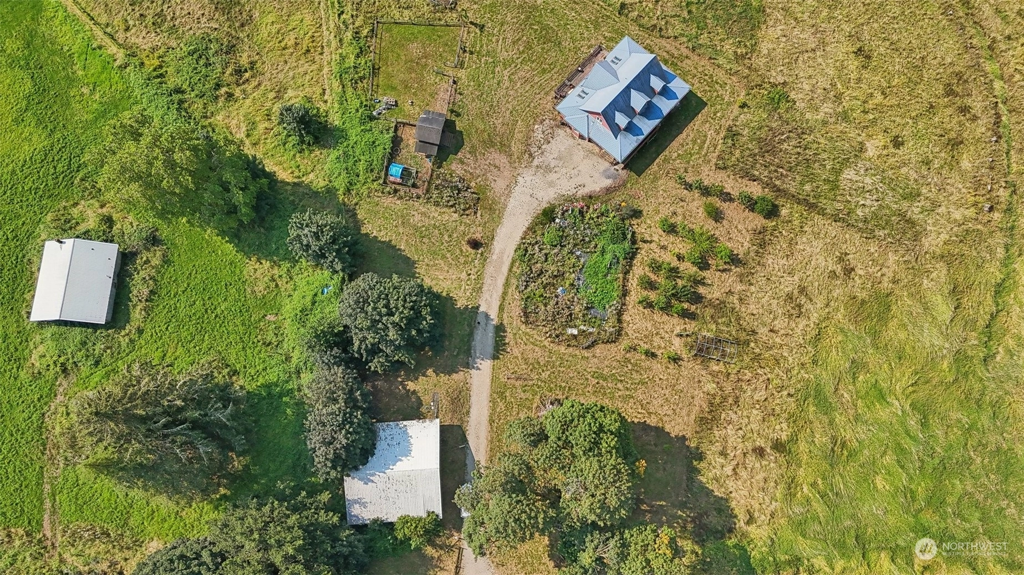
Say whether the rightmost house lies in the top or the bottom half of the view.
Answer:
top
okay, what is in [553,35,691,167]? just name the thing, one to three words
house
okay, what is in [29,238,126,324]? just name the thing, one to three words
shed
